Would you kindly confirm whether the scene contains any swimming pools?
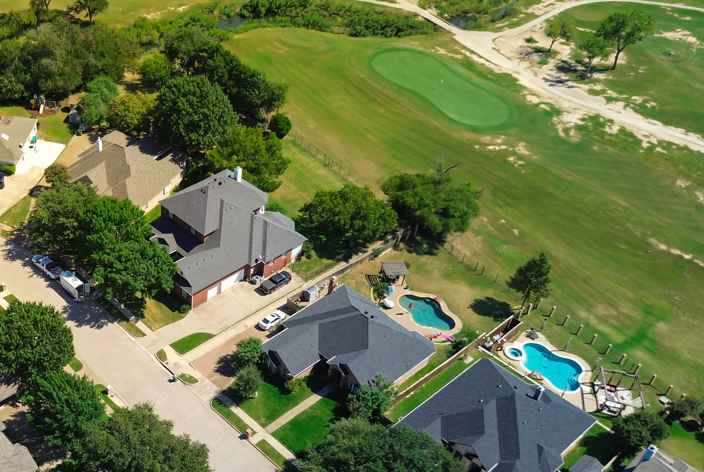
Yes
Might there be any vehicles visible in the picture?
Yes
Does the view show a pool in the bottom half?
Yes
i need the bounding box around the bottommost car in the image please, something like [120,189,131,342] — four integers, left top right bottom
[258,311,286,328]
